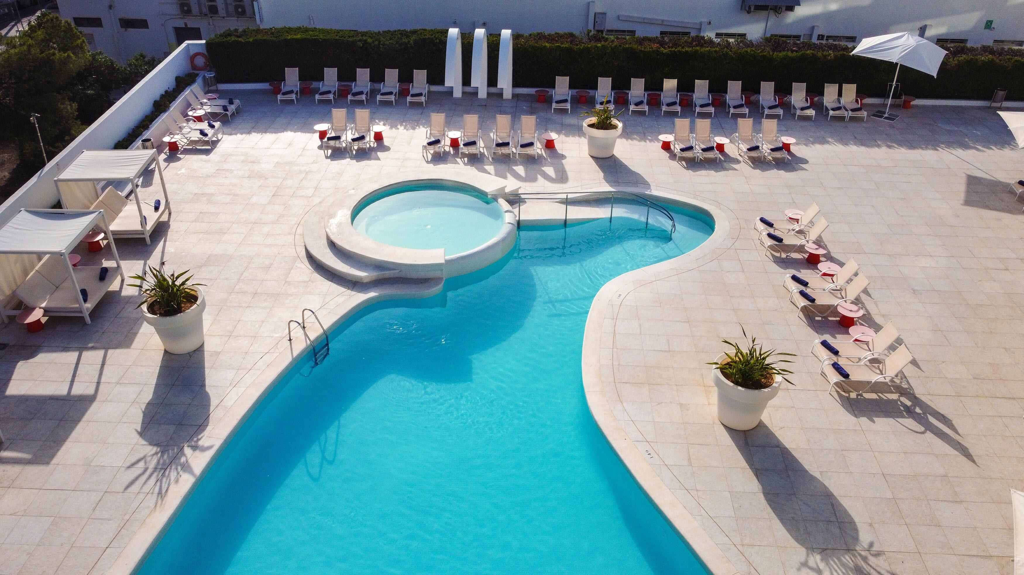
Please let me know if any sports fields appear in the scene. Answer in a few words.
No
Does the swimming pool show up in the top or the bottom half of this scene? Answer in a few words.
bottom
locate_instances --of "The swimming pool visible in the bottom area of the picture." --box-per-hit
[128,191,714,575]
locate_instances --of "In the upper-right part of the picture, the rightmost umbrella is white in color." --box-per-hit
[995,110,1024,150]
